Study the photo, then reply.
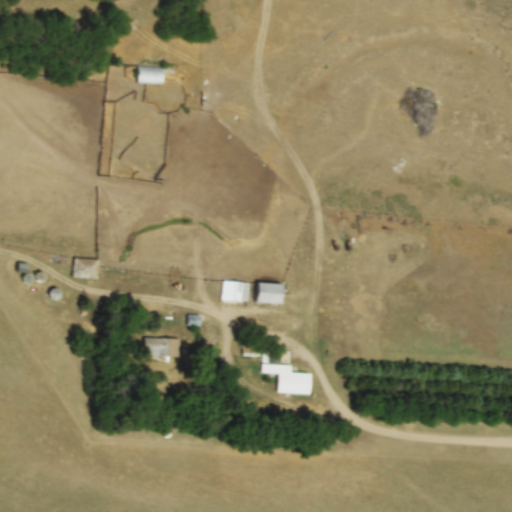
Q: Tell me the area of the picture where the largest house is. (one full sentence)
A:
The largest house is located in the bottom region of the scene.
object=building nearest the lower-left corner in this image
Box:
[145,338,180,365]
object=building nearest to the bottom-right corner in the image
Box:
[242,348,311,396]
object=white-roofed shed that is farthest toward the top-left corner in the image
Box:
[138,66,164,84]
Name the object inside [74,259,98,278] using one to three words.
barn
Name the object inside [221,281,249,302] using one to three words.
barn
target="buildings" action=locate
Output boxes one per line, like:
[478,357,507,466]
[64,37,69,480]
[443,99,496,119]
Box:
[221,281,249,302]
[242,348,311,396]
[256,284,286,304]
[187,314,204,327]
[138,66,164,84]
[145,338,180,365]
[74,259,98,278]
